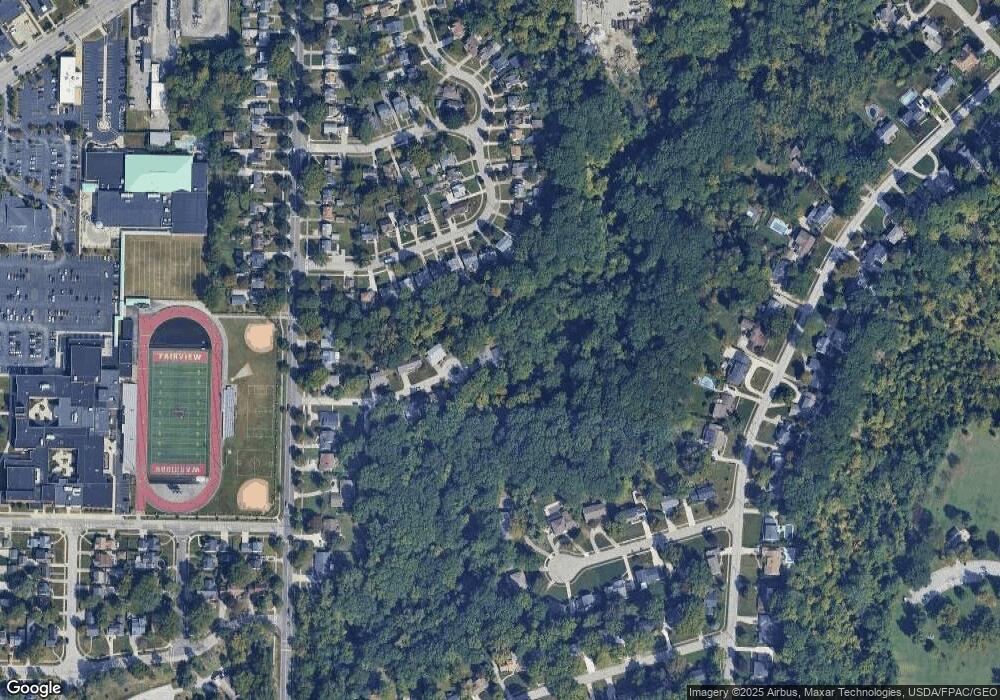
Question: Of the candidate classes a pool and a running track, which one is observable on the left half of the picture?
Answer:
running track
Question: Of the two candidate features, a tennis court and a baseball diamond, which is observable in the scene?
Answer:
baseball diamond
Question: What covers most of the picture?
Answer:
trees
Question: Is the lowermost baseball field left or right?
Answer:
left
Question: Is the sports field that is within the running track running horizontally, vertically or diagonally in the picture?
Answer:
vertically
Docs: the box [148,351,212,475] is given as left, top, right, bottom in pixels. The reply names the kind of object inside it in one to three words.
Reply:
sports field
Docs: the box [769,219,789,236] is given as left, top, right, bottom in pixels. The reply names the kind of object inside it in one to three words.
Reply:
swimming pool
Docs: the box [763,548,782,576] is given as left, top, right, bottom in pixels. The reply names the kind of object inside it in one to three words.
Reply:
house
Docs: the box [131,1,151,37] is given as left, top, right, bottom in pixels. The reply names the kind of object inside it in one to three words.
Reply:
building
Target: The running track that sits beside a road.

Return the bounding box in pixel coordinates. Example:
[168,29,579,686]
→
[136,300,229,514]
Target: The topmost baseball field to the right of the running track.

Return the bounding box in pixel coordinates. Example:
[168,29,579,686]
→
[244,321,276,353]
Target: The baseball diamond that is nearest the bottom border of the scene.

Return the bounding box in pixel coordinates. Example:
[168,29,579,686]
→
[236,477,271,512]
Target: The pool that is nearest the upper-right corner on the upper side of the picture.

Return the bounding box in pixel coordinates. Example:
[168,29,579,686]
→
[899,89,919,106]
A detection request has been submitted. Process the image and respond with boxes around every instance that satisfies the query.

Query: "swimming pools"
[782,550,794,564]
[769,219,789,236]
[899,89,919,106]
[866,103,879,120]
[700,377,712,388]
